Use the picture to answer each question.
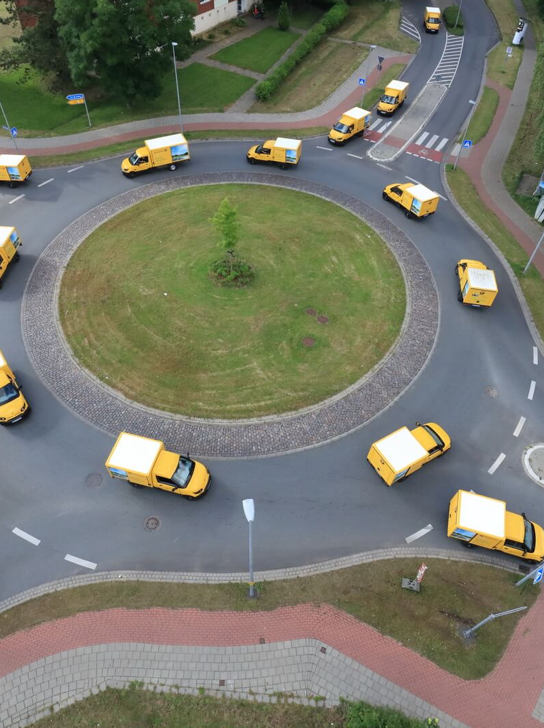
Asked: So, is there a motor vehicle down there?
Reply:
Yes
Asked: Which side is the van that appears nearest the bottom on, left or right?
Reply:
right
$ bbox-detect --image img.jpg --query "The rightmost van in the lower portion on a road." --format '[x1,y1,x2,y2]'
[446,491,544,568]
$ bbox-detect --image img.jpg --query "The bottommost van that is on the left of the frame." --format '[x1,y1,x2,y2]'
[108,434,210,502]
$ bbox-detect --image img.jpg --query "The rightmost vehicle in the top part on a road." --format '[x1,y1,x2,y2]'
[457,259,498,310]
